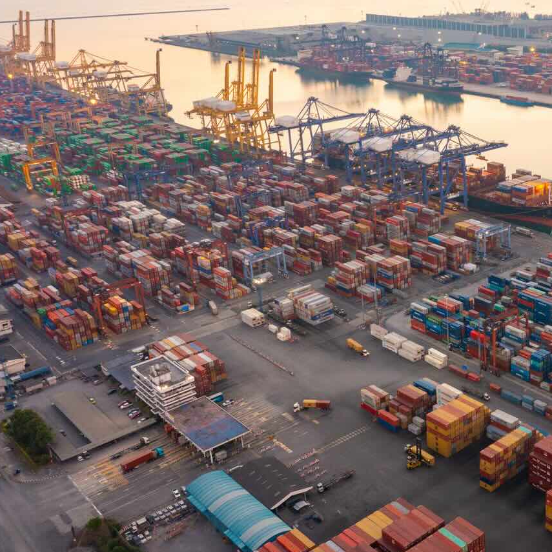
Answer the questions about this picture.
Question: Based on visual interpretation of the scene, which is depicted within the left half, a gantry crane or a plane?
gantry crane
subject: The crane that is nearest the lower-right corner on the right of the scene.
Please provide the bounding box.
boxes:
[481,314,531,375]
